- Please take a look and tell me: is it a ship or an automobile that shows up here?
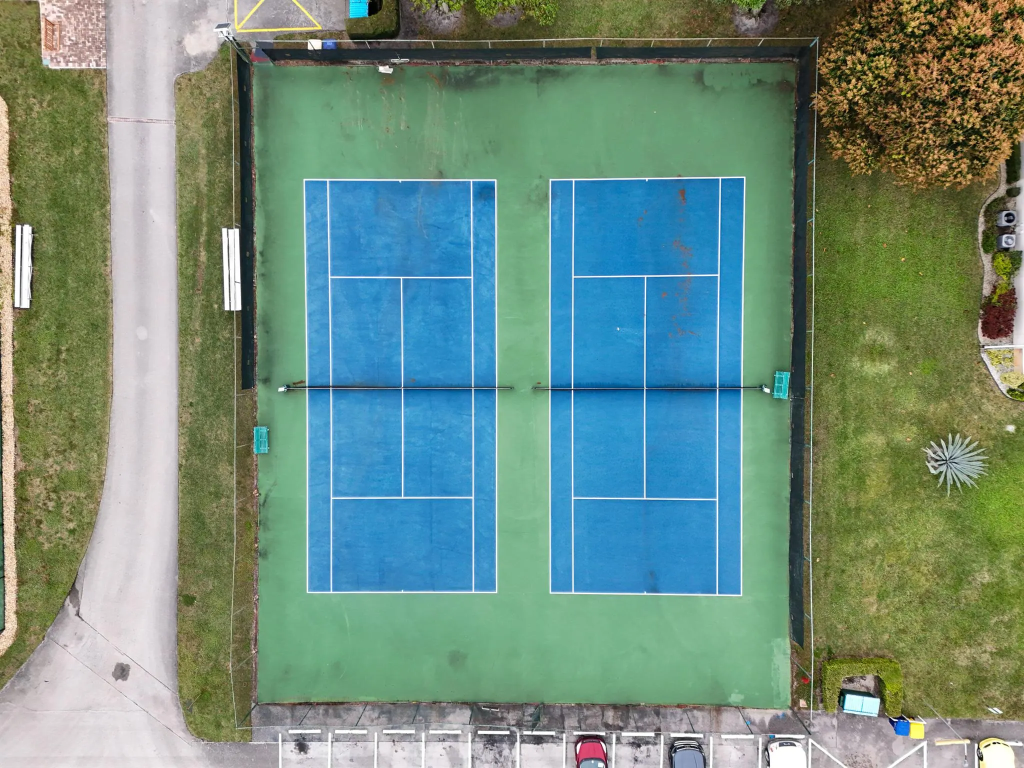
automobile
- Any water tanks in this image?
No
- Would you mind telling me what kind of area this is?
sports ground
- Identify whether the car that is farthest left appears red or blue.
red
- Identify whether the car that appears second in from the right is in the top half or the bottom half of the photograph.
bottom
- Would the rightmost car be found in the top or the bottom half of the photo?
bottom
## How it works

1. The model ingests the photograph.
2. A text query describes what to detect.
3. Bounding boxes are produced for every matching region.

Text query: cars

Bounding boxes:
[669,739,705,768]
[575,734,607,768]
[975,736,1017,768]
[767,738,805,768]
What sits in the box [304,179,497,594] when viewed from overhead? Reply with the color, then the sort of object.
blue tennis court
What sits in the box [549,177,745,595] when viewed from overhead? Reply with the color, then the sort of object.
blue tennis court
